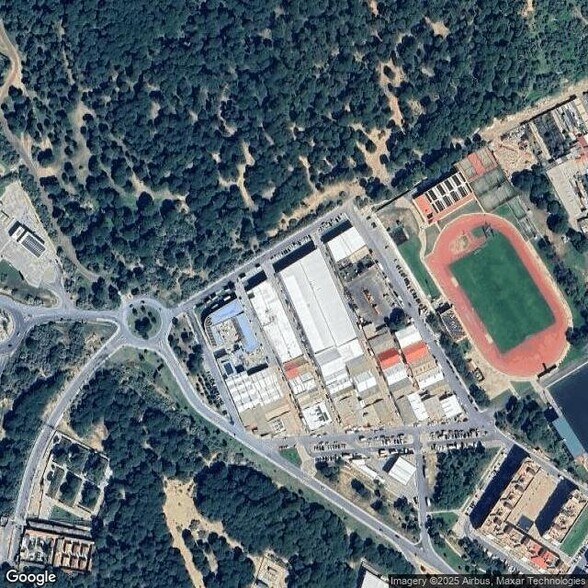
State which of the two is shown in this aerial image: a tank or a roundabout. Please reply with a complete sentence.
There is a roundabout in the scene.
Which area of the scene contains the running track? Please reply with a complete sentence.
You can find the running track in the right area of the picture.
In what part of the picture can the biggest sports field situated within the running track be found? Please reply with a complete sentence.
The biggest sports field situated within the running track is located in the right region of the scene.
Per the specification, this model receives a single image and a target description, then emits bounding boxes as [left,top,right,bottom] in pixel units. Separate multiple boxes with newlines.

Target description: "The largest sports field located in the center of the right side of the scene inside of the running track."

[450,230,555,353]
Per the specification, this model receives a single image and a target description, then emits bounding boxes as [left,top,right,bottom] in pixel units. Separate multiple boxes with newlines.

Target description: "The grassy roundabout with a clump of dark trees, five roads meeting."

[117,295,172,349]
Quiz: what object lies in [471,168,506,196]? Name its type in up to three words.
tennis court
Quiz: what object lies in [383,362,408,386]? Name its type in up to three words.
building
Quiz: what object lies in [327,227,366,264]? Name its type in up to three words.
building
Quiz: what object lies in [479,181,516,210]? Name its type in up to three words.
tennis court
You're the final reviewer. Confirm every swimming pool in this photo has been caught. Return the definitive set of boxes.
[516,514,535,533]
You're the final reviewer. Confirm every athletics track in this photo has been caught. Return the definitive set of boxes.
[423,212,571,378]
